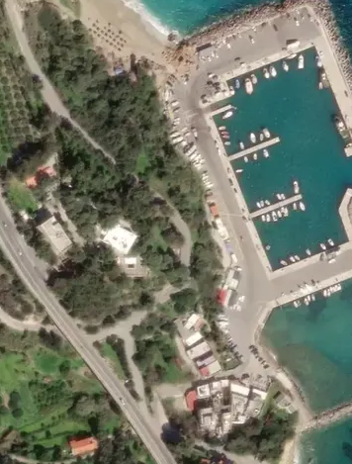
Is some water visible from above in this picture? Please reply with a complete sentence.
Yes, the picture does contain water.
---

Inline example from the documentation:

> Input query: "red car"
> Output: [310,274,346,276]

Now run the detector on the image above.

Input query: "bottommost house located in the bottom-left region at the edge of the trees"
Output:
[68,438,98,458]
